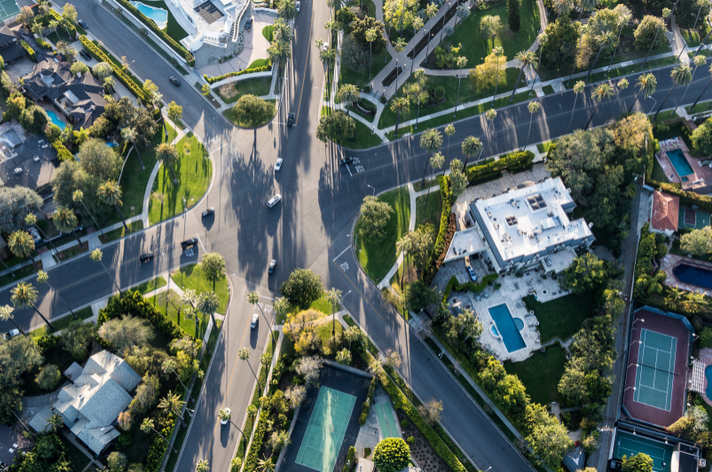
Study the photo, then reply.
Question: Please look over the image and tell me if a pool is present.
Yes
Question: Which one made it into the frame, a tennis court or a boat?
tennis court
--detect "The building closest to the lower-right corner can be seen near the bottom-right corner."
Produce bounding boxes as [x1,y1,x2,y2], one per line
[669,443,700,472]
